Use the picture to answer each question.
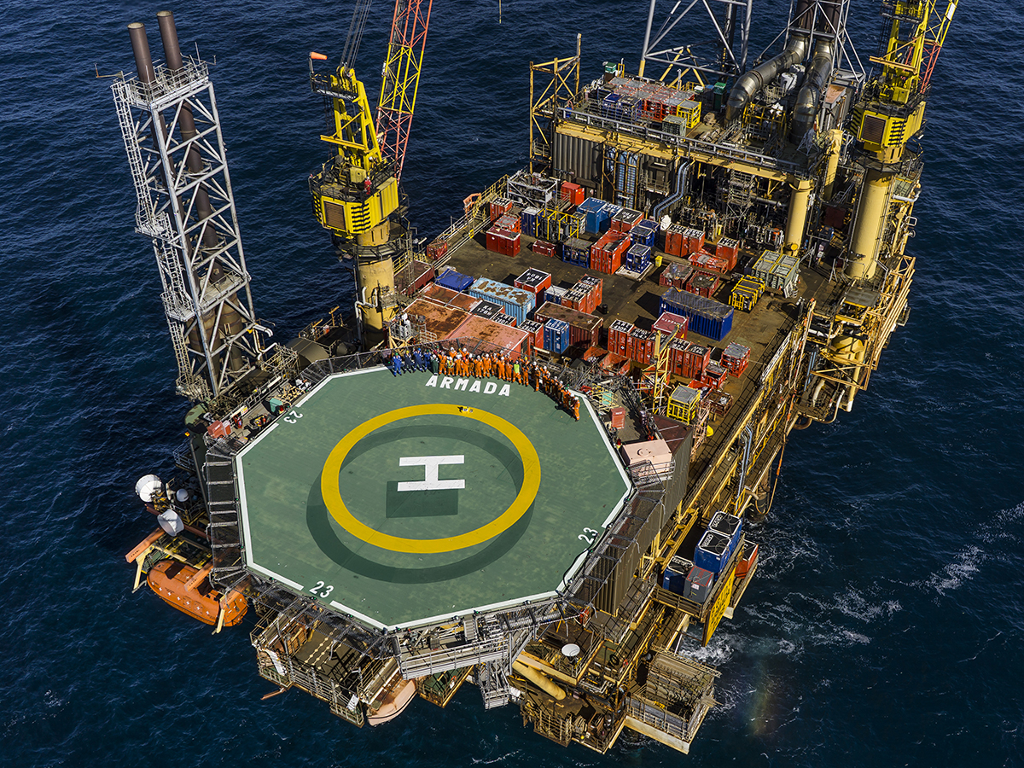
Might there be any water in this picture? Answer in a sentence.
Yes, there is water in the image.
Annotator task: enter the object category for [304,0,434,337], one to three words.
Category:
crane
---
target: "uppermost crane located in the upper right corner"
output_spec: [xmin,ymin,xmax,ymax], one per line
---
[843,0,948,272]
